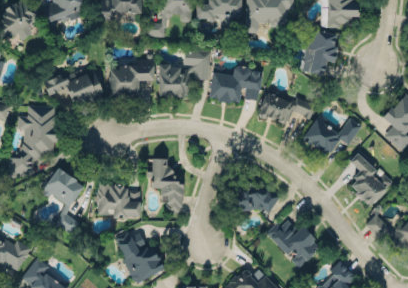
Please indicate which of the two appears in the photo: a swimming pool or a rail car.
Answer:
swimming pool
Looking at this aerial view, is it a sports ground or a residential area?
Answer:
residential area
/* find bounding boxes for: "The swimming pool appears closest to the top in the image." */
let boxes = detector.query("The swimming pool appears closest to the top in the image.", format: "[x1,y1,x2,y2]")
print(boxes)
[306,0,320,24]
